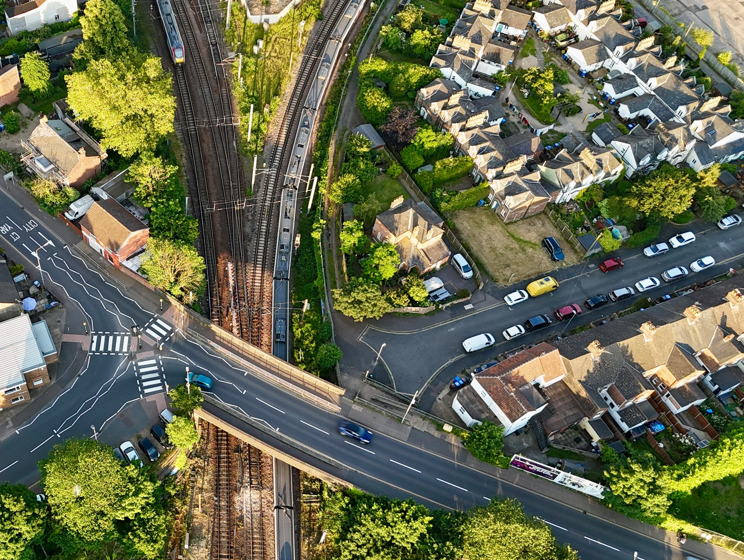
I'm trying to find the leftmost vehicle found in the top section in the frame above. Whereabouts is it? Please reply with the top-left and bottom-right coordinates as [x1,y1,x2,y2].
[65,194,94,221]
